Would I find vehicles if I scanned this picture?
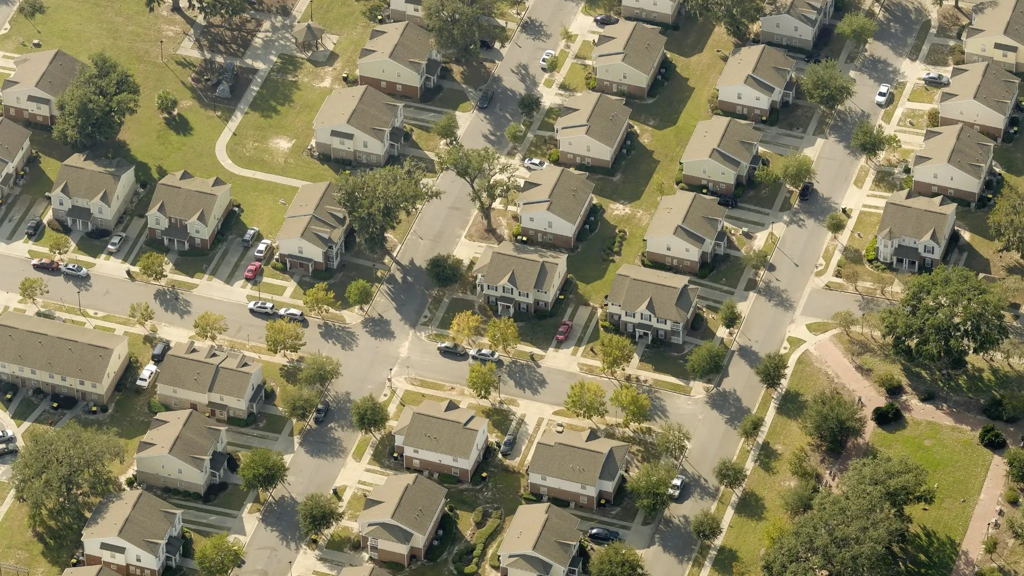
Yes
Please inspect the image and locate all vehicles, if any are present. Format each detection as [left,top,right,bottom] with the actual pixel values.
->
[107,233,125,253]
[277,307,306,323]
[715,194,742,209]
[556,322,573,342]
[245,262,262,281]
[478,89,493,108]
[60,264,88,279]
[254,240,272,260]
[31,258,59,272]
[669,476,685,498]
[437,342,466,357]
[798,180,814,201]
[247,301,276,316]
[588,525,618,543]
[151,341,170,363]
[138,366,156,387]
[521,157,550,171]
[805,53,832,65]
[26,217,43,237]
[501,434,518,455]
[0,444,22,459]
[876,85,891,105]
[592,14,620,25]
[313,401,330,423]
[540,50,555,69]
[241,228,259,248]
[923,73,951,86]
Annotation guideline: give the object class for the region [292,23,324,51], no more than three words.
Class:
gazebo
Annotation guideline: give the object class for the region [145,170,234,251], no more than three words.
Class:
house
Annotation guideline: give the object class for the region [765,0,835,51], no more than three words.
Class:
house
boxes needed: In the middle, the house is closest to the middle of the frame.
[472,241,570,317]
